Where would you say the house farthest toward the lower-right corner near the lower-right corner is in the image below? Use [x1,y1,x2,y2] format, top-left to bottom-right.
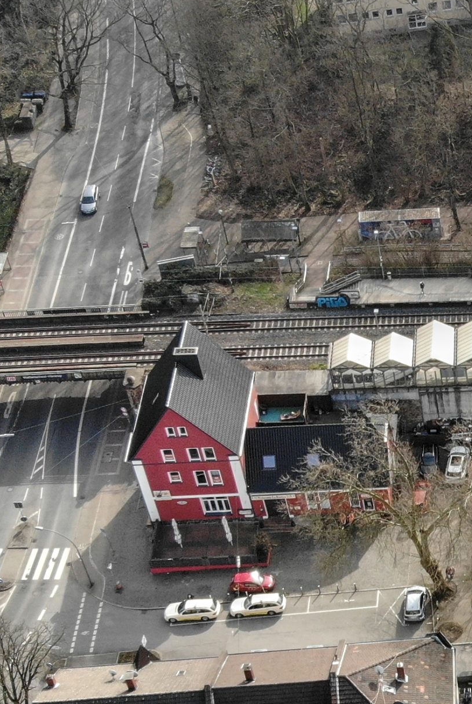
[333,627,464,704]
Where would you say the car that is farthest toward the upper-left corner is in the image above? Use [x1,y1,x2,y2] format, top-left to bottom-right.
[78,187,101,215]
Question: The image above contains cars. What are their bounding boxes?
[419,444,441,478]
[404,580,429,622]
[230,590,287,617]
[78,187,101,215]
[447,445,471,478]
[229,570,274,593]
[167,598,224,625]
